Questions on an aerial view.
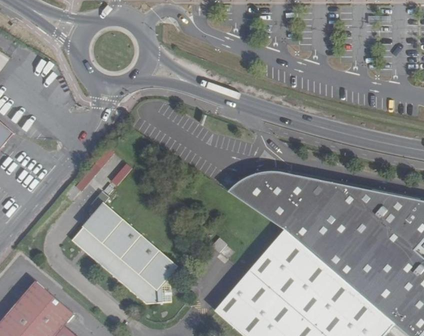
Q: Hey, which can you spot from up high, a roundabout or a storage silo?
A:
roundabout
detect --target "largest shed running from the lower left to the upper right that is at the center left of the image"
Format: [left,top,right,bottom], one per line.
[76,150,115,191]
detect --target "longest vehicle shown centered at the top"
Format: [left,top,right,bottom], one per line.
[201,80,243,100]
